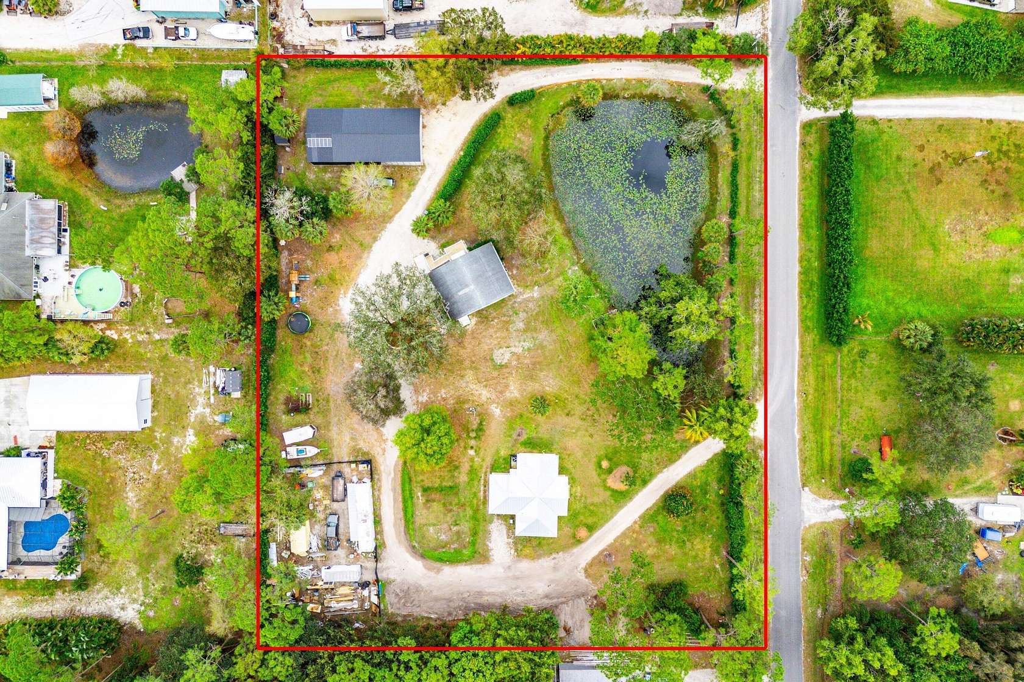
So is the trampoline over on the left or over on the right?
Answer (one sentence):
The trampoline sits on the left side.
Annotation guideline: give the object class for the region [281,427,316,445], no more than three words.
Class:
boat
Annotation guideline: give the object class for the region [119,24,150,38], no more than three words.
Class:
vehicle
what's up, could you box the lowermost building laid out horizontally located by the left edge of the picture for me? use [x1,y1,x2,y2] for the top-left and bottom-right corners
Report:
[23,374,151,431]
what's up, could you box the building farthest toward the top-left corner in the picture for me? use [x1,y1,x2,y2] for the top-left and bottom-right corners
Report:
[0,75,58,112]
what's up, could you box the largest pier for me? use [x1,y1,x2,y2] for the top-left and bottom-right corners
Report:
[170,161,201,193]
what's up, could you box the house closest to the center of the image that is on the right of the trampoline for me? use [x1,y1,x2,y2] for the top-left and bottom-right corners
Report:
[429,241,518,322]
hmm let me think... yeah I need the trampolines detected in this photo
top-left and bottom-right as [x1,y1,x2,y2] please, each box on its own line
[288,312,310,334]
